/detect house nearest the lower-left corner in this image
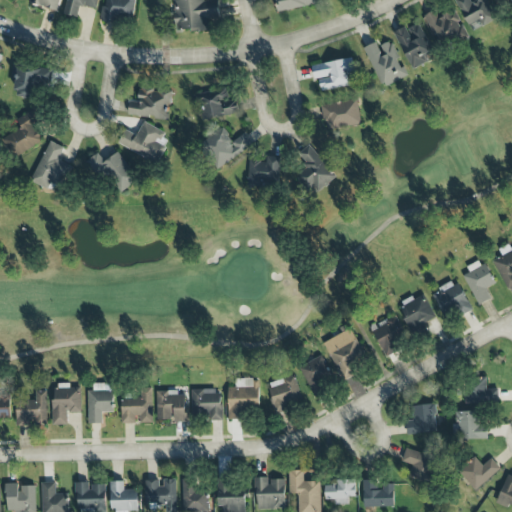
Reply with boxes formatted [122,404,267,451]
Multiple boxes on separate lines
[4,476,36,512]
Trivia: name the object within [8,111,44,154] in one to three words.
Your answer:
house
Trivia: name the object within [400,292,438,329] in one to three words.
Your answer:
house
